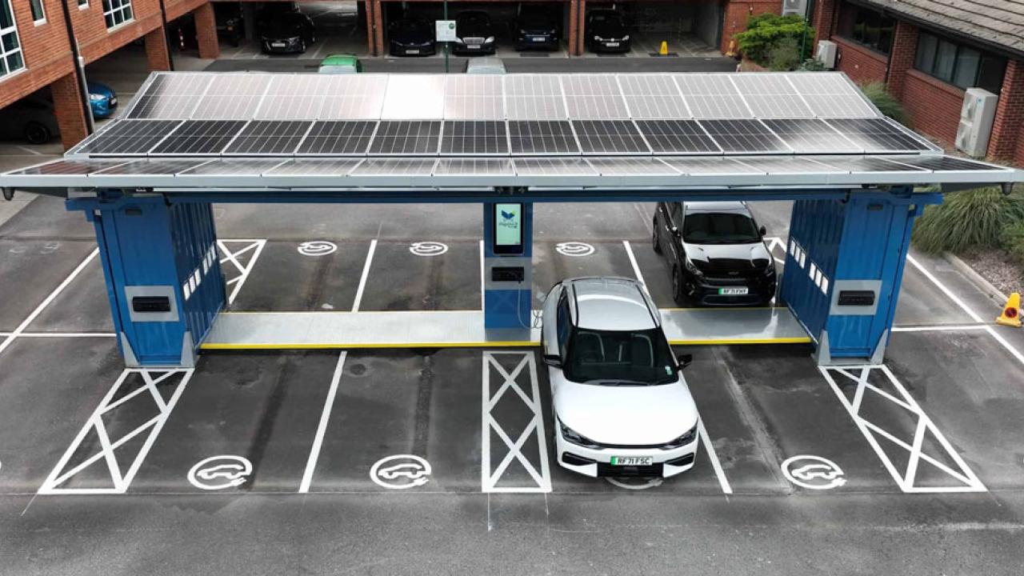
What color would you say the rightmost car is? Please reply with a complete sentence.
The rightmost car looks black in the image.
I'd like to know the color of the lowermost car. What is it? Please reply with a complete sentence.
The color of the lowermost car is white.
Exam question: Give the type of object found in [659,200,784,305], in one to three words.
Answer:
car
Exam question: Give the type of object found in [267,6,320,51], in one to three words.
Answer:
car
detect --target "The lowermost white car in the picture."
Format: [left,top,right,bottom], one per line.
[537,277,700,480]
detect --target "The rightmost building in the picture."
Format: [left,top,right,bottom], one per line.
[830,0,1024,170]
